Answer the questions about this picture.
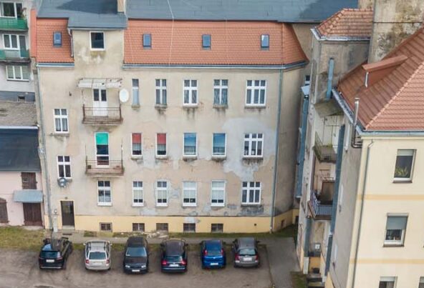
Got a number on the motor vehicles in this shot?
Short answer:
6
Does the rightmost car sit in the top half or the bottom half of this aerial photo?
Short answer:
bottom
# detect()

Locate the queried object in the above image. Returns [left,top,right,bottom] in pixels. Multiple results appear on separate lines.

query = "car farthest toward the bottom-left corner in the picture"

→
[40,232,82,267]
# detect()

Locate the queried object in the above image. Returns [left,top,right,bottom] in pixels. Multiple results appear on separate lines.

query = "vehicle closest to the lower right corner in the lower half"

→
[230,233,262,265]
